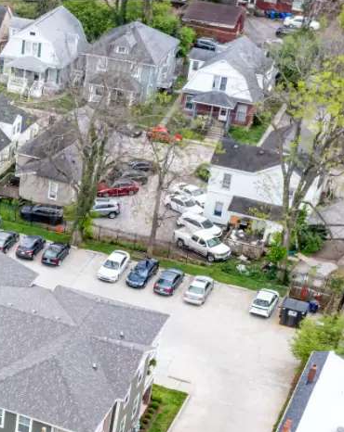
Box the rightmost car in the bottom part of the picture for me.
[249,286,278,313]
